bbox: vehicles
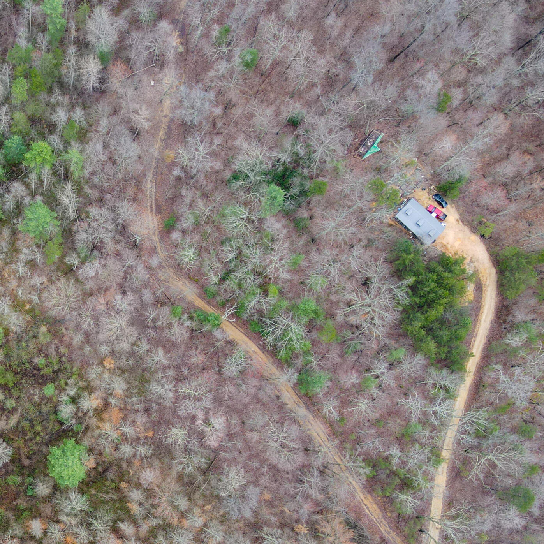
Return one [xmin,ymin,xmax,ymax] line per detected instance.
[425,204,448,221]
[432,192,447,209]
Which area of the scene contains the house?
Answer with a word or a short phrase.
right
